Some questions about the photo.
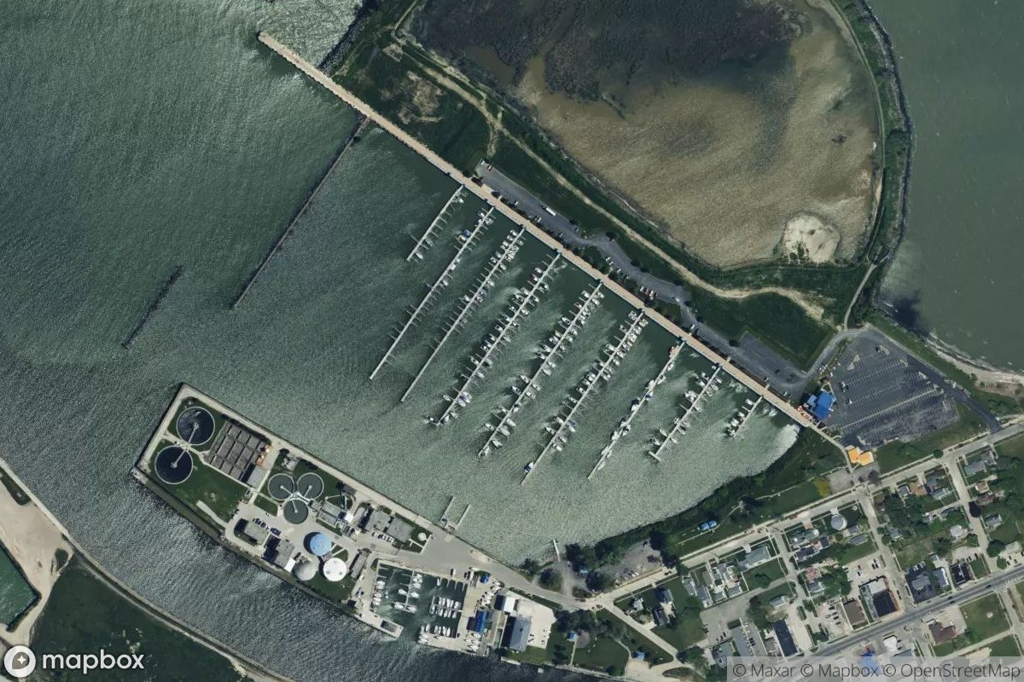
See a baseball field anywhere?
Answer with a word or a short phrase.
No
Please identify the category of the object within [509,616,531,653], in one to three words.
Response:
shed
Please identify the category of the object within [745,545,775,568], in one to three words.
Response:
house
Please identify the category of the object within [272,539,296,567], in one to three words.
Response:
building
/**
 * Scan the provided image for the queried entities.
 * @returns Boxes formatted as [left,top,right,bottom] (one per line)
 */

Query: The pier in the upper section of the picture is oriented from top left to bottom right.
[259,32,815,430]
